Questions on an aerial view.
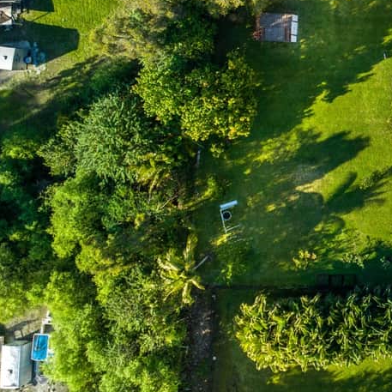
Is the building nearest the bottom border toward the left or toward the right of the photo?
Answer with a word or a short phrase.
left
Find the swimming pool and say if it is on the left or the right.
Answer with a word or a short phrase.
left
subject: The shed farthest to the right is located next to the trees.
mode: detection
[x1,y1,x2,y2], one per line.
[259,14,299,42]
